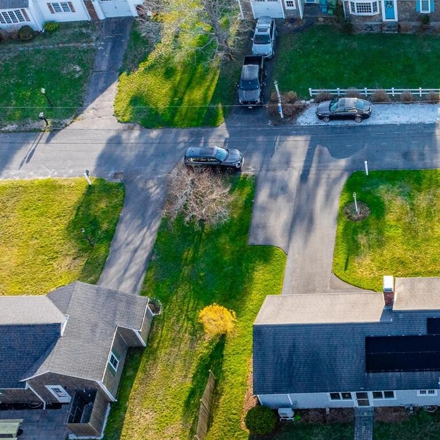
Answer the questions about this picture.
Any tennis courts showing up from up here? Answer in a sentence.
No, I find no tennis court anywhere in the image.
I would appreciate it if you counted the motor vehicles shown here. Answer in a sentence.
The picture shows 4 motor vehicles.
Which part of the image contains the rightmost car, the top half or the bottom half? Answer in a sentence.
The rightmost car is in the top half of the image.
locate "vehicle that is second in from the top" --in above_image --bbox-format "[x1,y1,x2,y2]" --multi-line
[235,59,268,105]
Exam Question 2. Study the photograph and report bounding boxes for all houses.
[0,281,153,410]
[238,0,440,36]
[252,274,440,415]
[0,0,153,33]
